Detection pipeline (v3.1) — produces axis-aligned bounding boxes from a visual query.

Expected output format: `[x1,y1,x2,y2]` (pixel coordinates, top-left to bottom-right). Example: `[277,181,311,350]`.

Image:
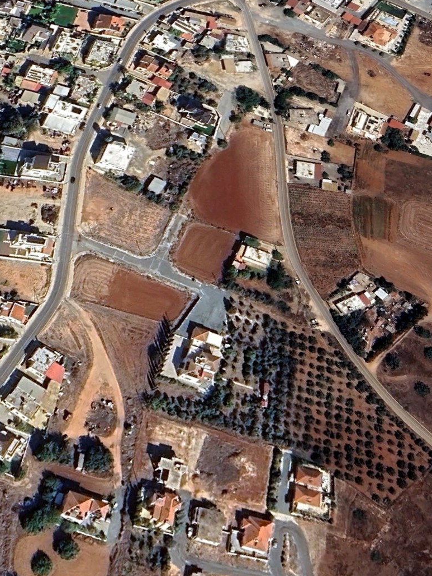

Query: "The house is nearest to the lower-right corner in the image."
[291,464,322,516]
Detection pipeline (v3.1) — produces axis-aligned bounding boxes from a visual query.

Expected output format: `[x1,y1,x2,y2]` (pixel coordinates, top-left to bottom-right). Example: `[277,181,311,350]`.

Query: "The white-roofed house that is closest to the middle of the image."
[233,244,271,270]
